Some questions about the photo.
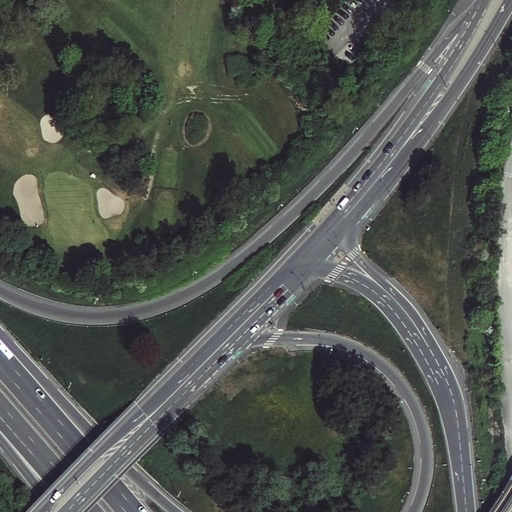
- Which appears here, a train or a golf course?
golf course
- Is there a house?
No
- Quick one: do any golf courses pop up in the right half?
No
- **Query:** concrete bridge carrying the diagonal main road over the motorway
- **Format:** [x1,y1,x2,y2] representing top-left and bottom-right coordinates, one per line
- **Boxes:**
[25,376,160,512]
